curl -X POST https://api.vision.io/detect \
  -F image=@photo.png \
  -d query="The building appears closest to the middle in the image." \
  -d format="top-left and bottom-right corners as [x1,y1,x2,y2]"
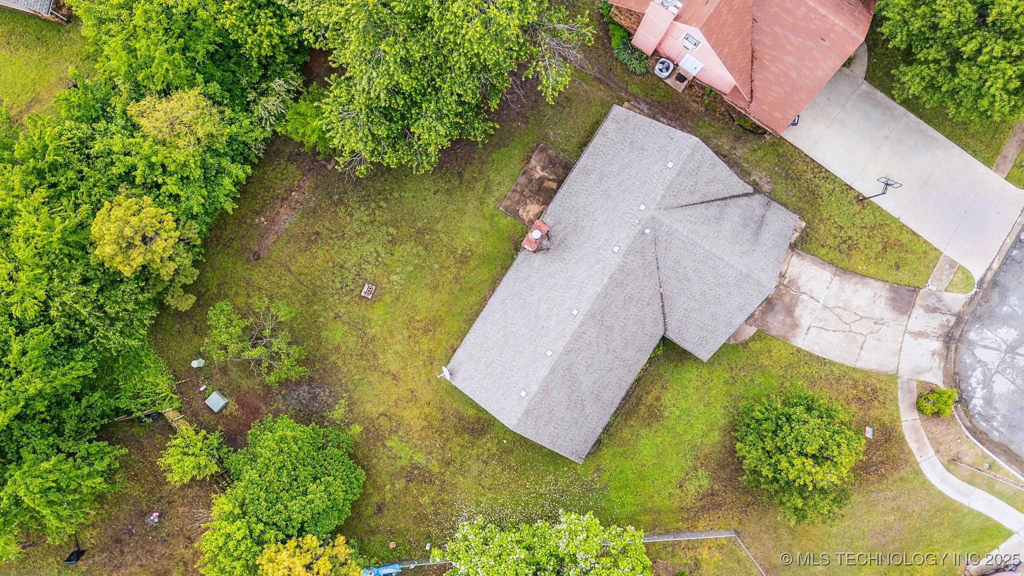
[445,105,799,463]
